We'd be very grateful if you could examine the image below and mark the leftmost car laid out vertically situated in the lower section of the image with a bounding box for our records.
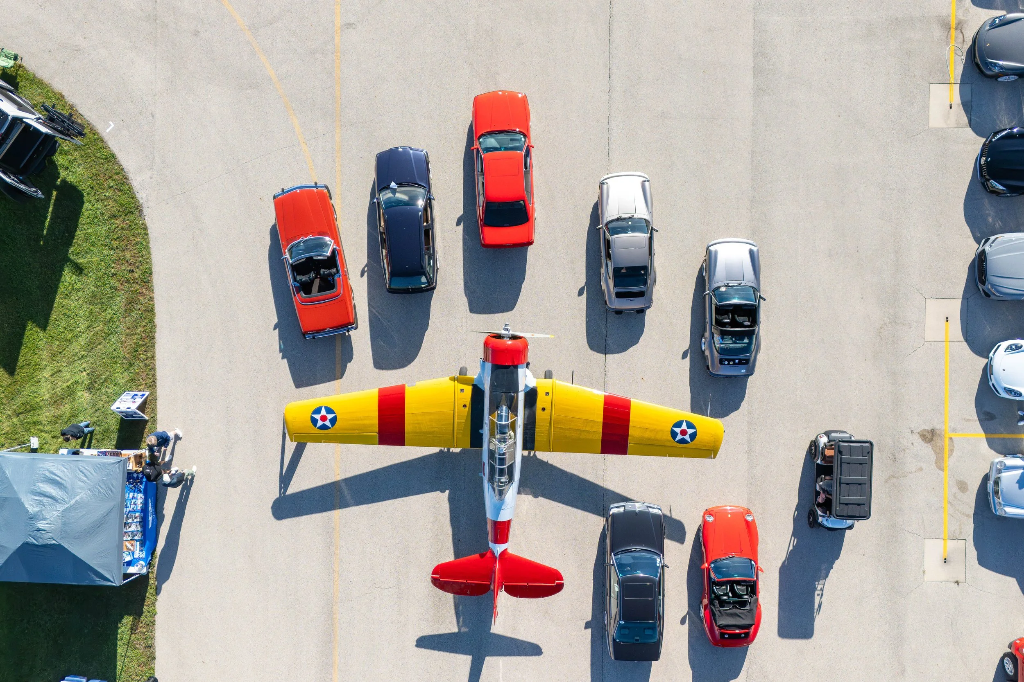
[603,500,671,664]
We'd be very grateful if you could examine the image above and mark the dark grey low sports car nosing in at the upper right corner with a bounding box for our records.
[965,13,1024,83]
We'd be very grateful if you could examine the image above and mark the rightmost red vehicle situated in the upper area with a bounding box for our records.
[469,89,537,249]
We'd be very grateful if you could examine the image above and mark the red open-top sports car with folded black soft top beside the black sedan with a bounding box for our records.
[696,504,767,647]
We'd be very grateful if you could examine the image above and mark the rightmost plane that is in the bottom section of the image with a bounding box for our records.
[282,323,725,625]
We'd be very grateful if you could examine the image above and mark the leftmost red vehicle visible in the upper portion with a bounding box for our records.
[272,181,361,340]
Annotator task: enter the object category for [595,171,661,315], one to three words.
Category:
car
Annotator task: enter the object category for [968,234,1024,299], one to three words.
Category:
car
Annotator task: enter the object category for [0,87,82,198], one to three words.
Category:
van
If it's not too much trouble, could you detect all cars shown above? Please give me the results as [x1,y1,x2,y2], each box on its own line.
[965,13,1024,83]
[469,89,537,249]
[595,171,661,315]
[982,456,1024,518]
[371,146,439,293]
[603,500,671,664]
[994,640,1024,682]
[696,504,767,647]
[971,129,1024,198]
[980,340,1024,400]
[272,181,361,340]
[698,237,768,377]
[968,234,1024,299]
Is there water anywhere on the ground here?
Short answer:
No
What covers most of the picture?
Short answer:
paved ground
